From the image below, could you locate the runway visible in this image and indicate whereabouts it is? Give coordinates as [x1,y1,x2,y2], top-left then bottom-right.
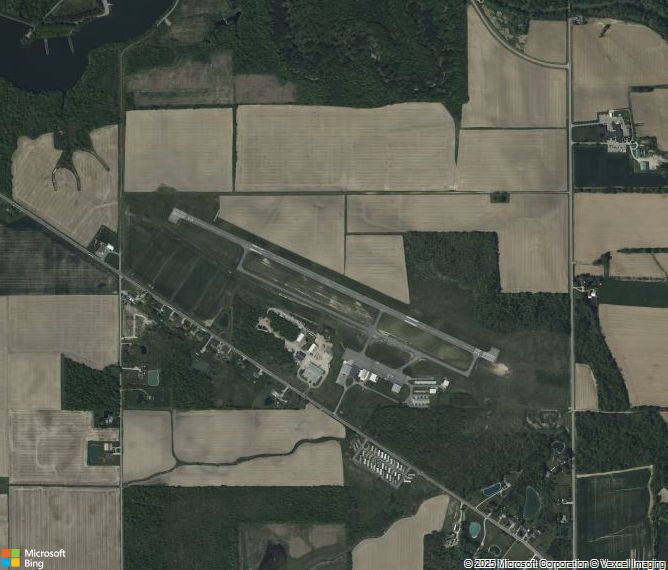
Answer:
[168,207,500,362]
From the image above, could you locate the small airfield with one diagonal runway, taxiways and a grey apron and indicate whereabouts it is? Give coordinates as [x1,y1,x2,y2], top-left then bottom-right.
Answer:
[168,207,500,415]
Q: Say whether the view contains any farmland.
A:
Yes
